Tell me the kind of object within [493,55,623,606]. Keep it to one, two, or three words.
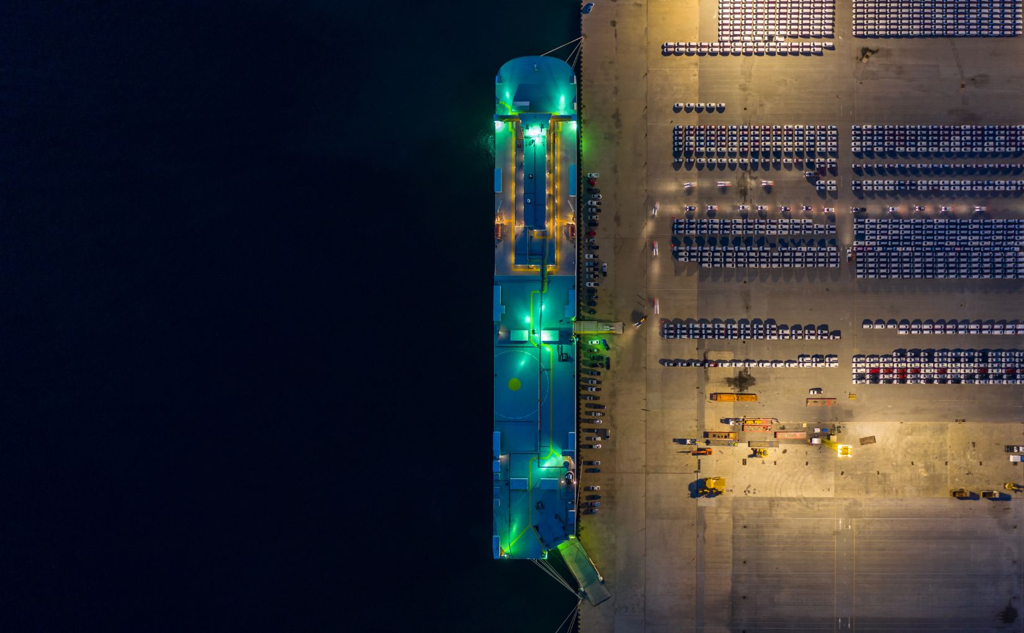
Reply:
ship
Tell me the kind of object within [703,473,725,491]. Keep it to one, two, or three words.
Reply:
vehicle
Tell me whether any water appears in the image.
Yes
